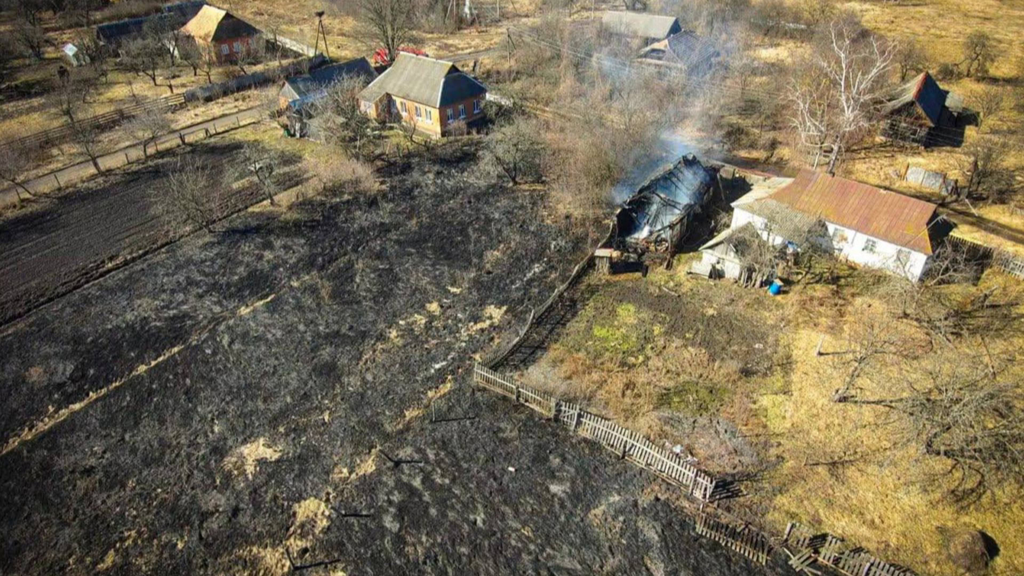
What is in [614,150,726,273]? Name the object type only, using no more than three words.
barn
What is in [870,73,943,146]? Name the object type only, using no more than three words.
shed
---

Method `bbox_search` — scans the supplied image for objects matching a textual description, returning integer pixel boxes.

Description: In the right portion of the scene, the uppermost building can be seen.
[594,10,684,46]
